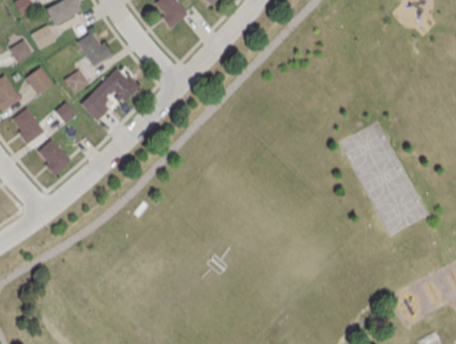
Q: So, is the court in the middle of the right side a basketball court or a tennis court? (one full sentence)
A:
The court in the middle of the right side in the image is a basketball court.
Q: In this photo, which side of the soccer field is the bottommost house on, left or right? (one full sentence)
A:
Relative to the soccer field, the bottommost house is on the left.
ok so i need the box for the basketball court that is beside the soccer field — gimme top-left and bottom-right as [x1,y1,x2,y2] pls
[341,122,428,236]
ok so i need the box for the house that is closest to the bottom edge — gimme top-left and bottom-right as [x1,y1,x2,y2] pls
[38,139,70,174]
